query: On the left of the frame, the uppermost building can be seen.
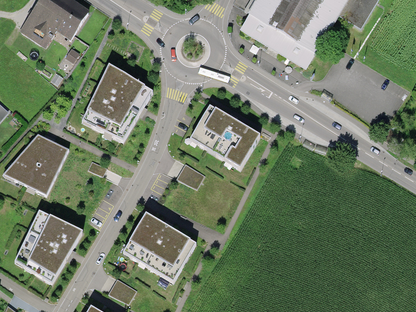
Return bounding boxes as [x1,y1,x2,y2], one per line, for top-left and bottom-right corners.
[21,0,88,49]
